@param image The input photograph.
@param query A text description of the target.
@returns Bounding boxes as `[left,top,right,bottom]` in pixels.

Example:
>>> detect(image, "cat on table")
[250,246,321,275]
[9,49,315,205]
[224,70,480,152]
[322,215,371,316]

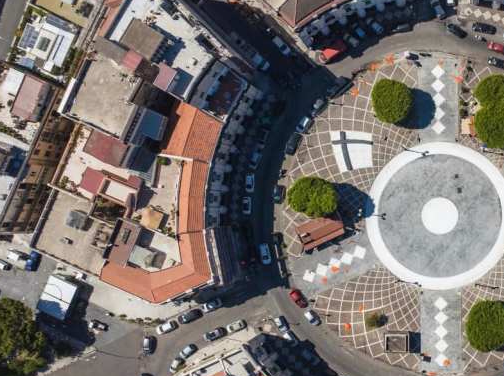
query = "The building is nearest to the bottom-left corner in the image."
[39,274,82,320]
